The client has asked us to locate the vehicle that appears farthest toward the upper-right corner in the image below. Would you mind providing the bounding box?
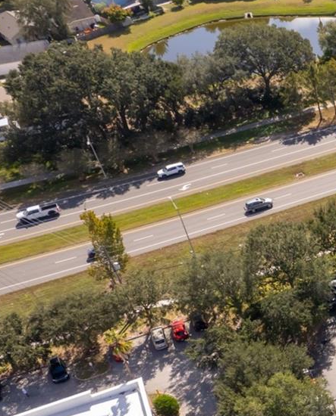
[245,197,273,212]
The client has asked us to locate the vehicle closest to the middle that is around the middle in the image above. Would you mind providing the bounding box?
[159,163,186,177]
